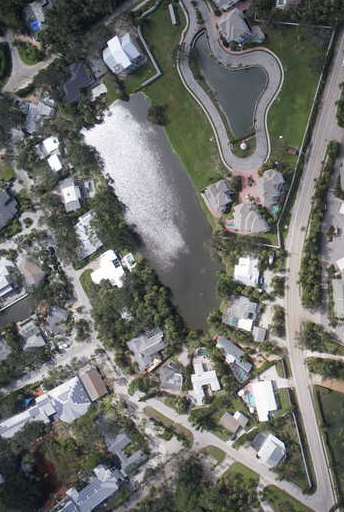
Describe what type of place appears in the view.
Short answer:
residential area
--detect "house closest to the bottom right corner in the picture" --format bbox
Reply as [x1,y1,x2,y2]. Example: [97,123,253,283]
[251,432,286,465]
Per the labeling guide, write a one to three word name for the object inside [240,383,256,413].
swimming pool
